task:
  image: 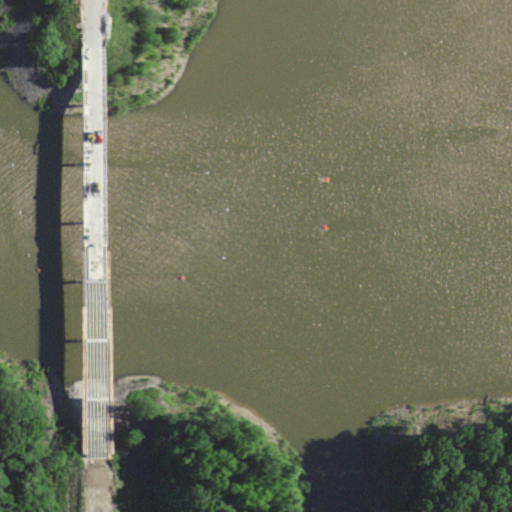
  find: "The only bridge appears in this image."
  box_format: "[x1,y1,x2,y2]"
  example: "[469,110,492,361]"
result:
[82,44,113,470]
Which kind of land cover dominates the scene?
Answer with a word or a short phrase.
water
